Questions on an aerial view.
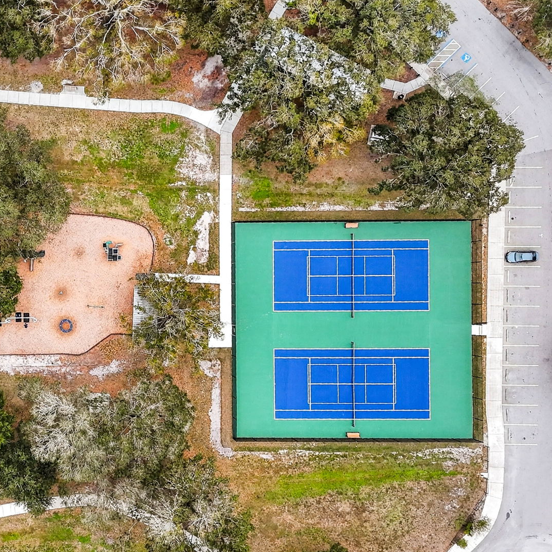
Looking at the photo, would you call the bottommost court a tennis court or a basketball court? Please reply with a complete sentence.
It looks like the bottommost court is a tennis court.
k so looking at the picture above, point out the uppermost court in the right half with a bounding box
[235,221,473,330]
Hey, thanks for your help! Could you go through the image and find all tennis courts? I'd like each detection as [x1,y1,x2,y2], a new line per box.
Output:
[235,221,473,330]
[236,330,474,439]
